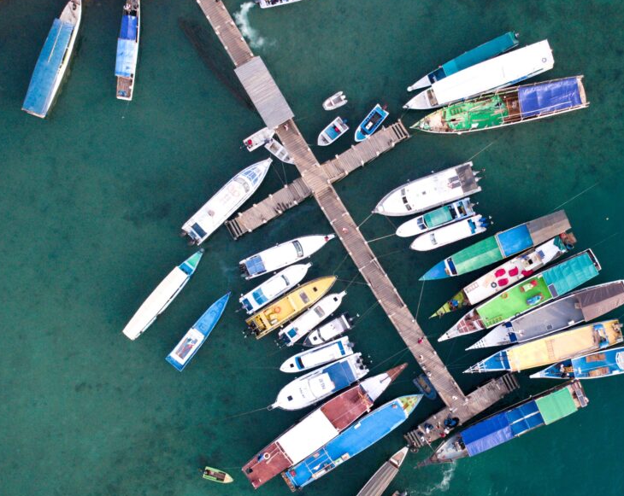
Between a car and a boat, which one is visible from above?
boat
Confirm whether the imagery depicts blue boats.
Yes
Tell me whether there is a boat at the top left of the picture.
Yes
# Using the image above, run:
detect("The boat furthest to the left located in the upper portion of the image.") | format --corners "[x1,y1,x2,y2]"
[22,0,82,121]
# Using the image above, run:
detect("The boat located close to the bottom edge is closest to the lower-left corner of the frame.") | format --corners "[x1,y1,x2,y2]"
[201,466,233,482]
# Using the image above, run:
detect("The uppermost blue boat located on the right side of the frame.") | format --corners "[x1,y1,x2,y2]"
[408,32,517,90]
